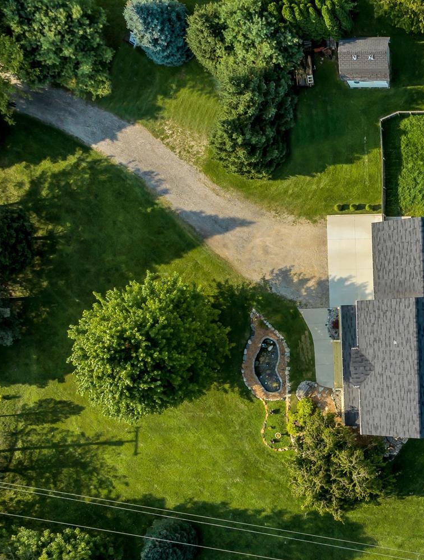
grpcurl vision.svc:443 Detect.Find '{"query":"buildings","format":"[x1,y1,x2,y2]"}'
[330,215,424,439]
[336,40,391,89]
